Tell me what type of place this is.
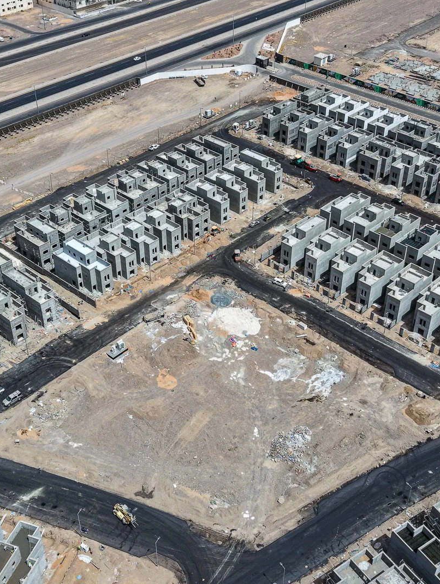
residential area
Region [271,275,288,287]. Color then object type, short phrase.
white vehicle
